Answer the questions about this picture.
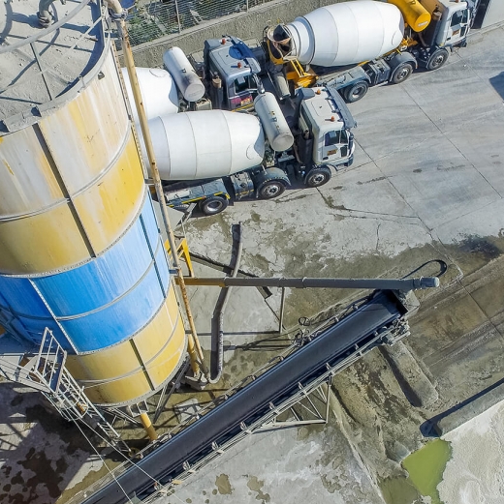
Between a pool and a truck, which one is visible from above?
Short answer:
truck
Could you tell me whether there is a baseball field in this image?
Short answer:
No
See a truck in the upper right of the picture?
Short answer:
Yes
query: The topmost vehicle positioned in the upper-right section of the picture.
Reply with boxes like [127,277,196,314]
[258,0,478,105]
